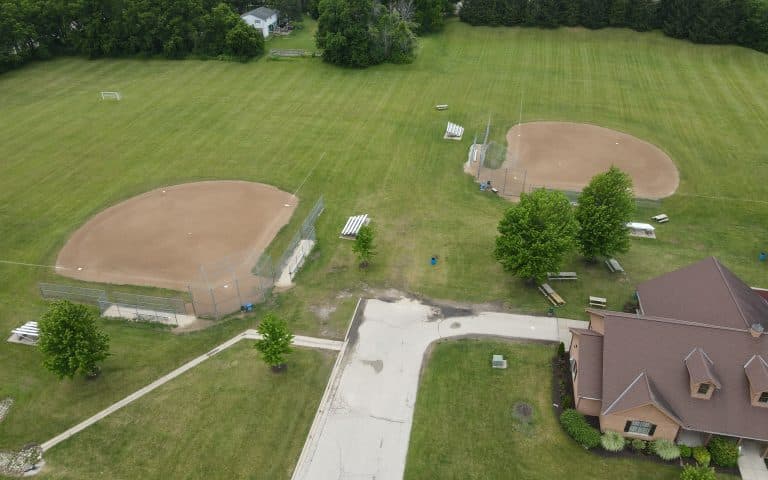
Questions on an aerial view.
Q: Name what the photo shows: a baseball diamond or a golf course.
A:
baseball diamond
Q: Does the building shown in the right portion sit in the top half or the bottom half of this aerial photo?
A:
bottom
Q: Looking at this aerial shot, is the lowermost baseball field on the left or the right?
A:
left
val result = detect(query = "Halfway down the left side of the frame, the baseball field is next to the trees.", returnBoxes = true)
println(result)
[1,153,326,329]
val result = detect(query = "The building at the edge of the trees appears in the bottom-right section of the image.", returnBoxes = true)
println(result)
[568,256,768,460]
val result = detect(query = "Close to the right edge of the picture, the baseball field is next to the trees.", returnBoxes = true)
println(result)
[464,88,767,203]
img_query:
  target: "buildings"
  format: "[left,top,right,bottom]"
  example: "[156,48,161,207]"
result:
[242,5,280,42]
[568,256,768,460]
